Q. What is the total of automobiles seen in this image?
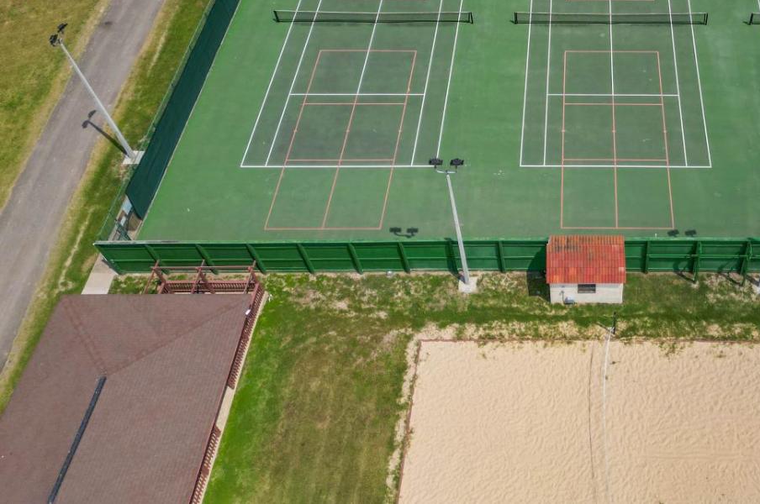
0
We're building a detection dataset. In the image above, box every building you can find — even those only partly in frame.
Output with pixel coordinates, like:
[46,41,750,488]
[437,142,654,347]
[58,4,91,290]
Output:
[0,263,269,504]
[545,230,628,303]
